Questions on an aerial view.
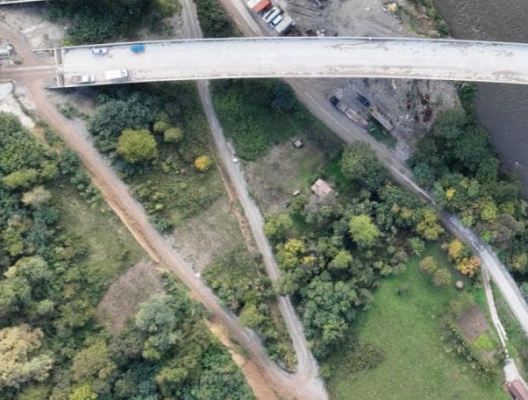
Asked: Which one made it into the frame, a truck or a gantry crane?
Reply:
truck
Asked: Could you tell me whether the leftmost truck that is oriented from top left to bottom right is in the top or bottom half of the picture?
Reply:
top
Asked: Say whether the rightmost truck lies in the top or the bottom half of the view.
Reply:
top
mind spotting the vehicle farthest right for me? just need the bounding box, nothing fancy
[353,93,394,135]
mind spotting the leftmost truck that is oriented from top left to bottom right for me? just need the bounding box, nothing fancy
[326,94,370,131]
